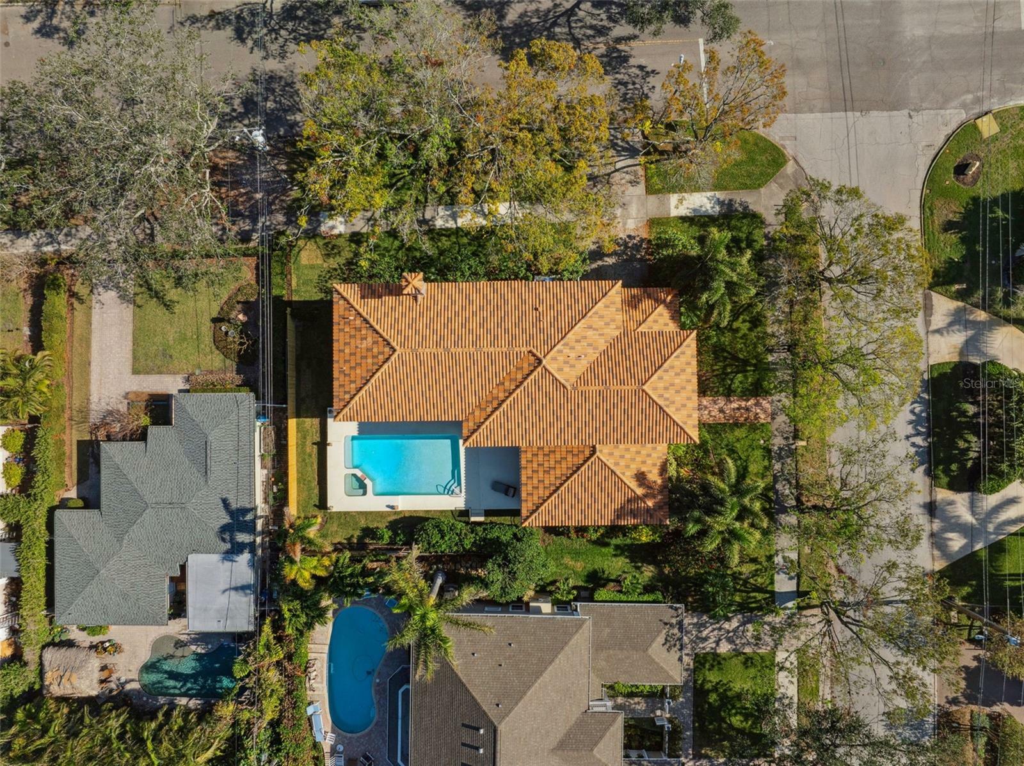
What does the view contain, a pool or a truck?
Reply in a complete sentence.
Looking from above, you can make out a pool.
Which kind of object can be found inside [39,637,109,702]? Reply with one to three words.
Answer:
shed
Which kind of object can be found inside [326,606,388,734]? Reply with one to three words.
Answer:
swimming pool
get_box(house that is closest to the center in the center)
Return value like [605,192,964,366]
[331,272,700,528]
